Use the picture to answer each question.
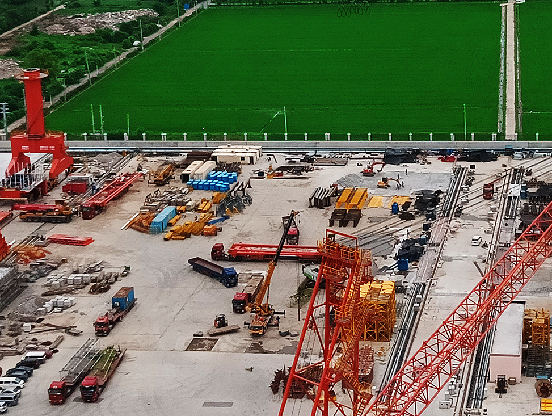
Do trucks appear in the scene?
Yes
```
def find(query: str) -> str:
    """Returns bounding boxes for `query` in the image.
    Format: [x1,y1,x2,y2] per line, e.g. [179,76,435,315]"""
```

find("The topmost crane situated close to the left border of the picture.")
[0,70,78,184]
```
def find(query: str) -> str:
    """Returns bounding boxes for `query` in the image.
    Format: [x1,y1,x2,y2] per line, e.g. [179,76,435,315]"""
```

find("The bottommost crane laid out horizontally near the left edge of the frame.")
[12,205,71,222]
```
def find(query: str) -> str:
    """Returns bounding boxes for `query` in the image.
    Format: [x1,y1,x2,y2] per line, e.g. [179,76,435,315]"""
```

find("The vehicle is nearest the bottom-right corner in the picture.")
[495,374,509,394]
